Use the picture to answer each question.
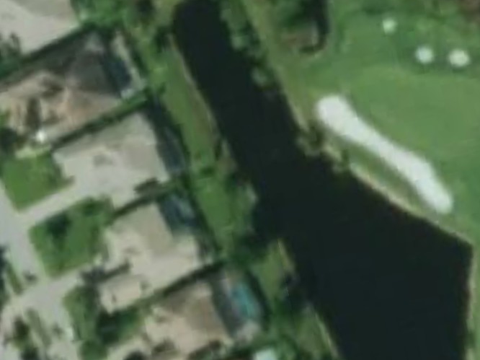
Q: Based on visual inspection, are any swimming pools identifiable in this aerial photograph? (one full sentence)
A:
Yes, the image includes a swimming pool.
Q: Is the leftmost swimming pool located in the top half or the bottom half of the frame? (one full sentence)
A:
The leftmost swimming pool sits in the top half of the picture.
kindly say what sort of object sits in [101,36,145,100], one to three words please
swimming pool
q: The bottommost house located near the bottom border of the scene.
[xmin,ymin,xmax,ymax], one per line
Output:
[144,288,232,360]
